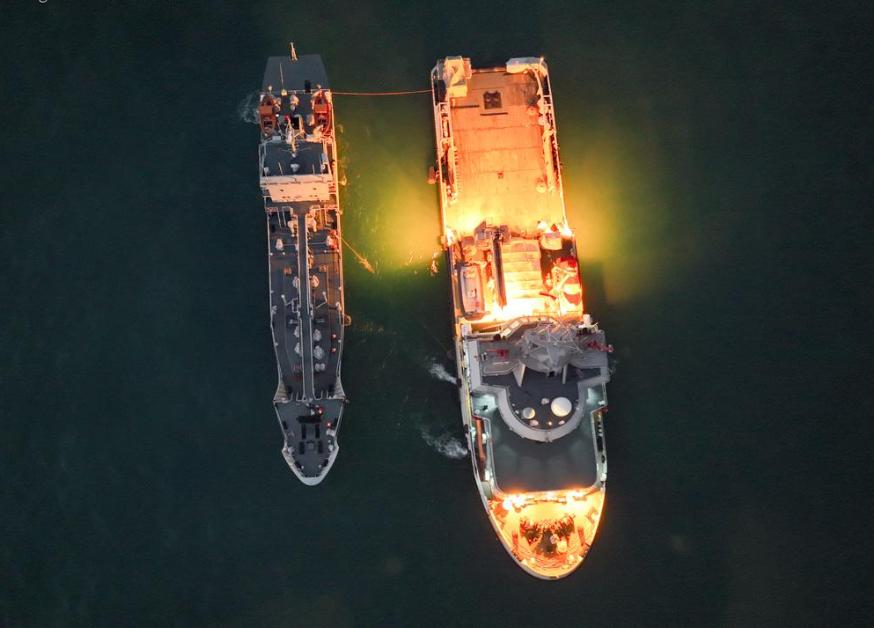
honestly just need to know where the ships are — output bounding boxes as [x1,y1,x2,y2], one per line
[428,55,615,579]
[255,41,356,486]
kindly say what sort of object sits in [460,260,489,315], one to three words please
boat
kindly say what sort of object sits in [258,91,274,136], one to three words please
boat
